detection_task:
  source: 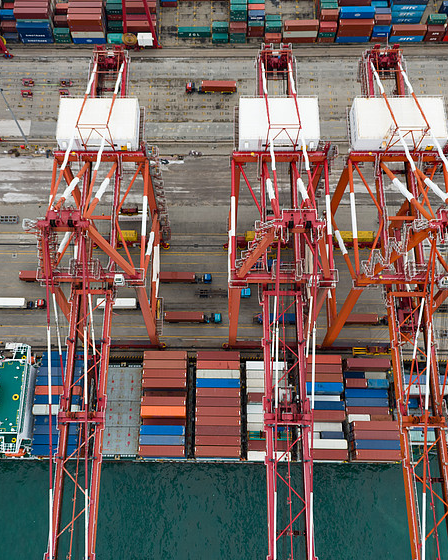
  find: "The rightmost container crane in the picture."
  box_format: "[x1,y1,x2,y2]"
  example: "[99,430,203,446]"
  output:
[316,43,448,560]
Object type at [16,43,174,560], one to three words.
container crane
